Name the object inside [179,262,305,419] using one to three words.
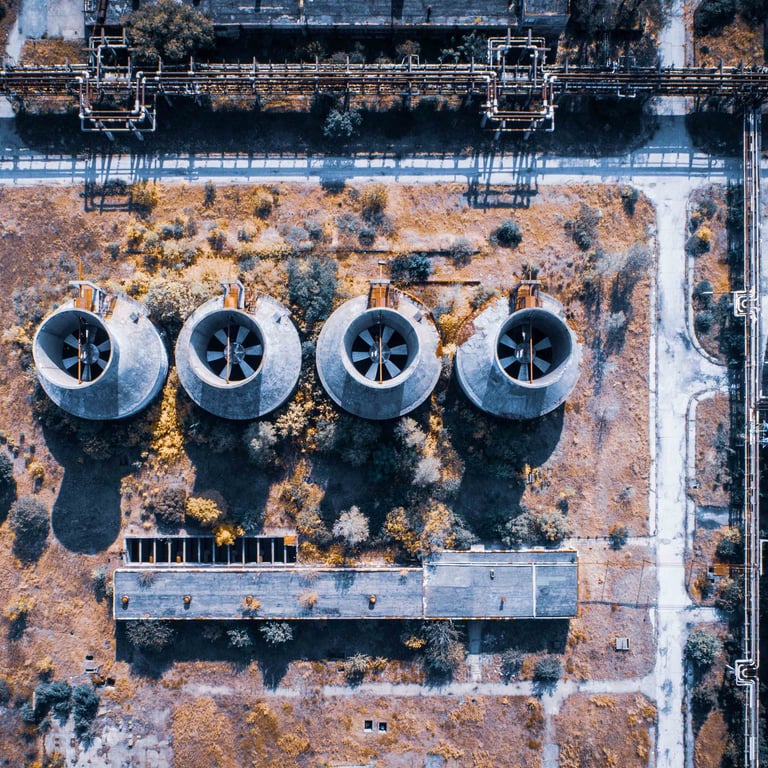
cooling tower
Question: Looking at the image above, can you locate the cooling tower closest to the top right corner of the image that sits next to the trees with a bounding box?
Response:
[456,262,582,419]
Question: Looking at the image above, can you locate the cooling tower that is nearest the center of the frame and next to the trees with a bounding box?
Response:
[319,262,445,419]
